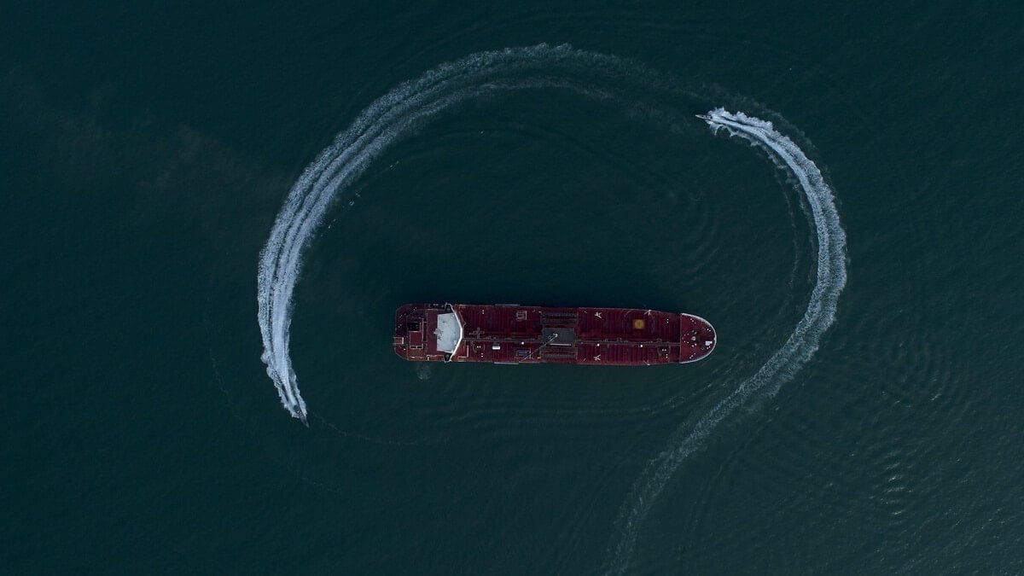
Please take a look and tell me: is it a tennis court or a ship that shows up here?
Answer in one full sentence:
Visible in the photo is a ship.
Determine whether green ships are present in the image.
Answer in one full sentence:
No, there appears to be no green ship in this shot.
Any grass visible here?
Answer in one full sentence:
No, the scene doesn't show any grass.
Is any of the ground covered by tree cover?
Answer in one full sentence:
No, no tree cover is visible.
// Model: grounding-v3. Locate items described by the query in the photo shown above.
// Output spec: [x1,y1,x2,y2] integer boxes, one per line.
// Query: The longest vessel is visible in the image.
[393,303,716,367]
